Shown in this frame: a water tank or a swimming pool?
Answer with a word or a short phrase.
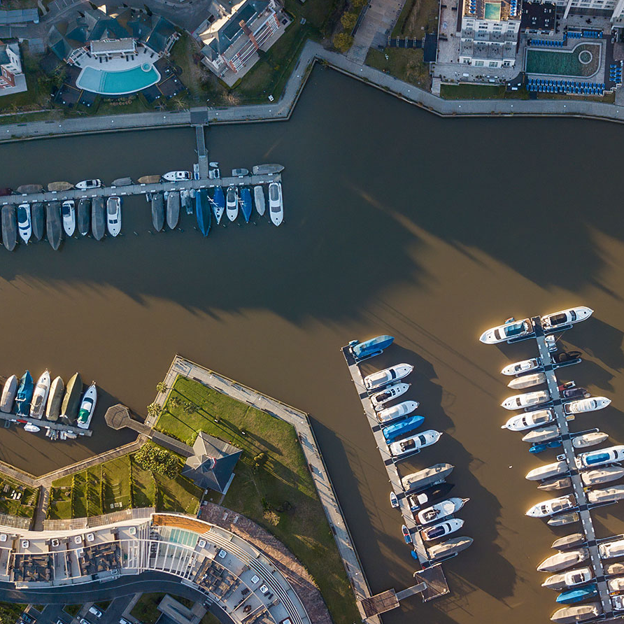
swimming pool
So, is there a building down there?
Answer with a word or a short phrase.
Yes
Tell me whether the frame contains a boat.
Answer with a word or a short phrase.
Yes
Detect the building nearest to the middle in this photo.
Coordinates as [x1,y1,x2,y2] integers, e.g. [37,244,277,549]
[181,433,243,497]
